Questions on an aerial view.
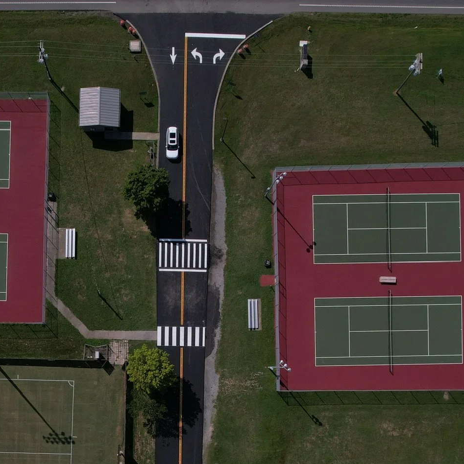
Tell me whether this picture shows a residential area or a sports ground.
sports ground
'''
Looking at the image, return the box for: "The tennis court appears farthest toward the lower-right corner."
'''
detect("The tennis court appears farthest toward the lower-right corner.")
[273,166,464,390]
